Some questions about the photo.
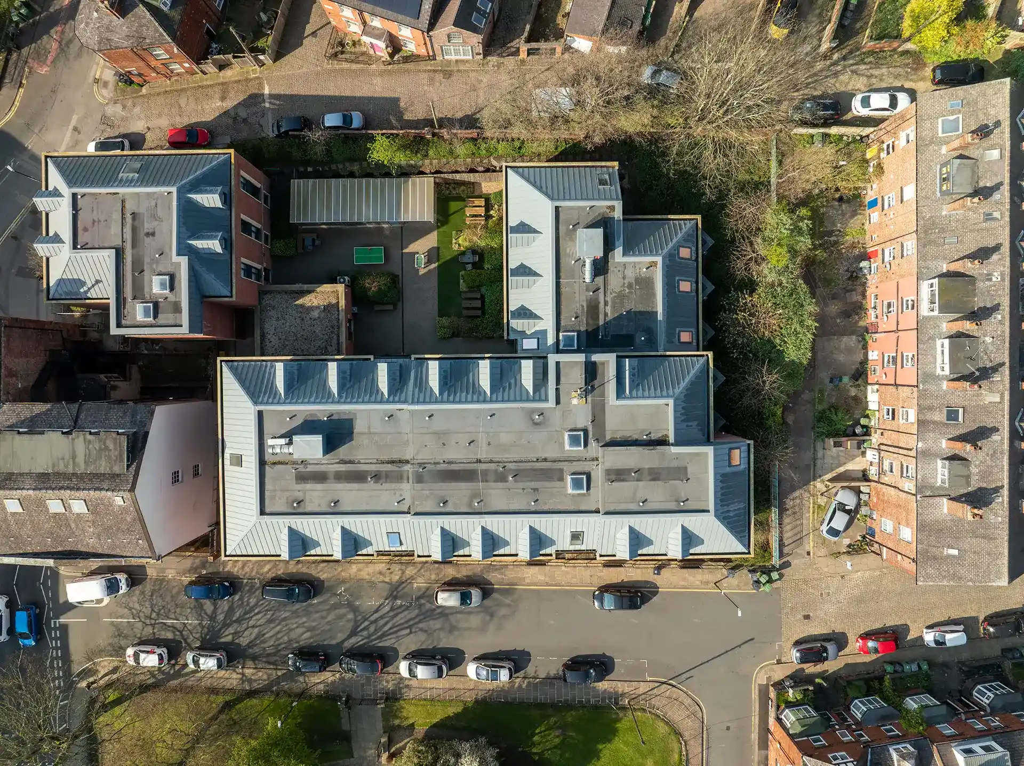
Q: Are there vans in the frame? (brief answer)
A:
Yes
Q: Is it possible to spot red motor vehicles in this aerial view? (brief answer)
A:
Yes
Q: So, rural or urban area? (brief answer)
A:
urban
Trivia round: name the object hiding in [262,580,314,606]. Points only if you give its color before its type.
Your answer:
black car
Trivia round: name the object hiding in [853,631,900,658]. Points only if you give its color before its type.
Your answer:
red car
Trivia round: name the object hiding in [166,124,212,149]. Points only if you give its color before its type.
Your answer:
red car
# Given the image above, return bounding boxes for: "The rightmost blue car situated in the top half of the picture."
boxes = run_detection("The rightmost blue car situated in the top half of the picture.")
[320,108,366,130]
